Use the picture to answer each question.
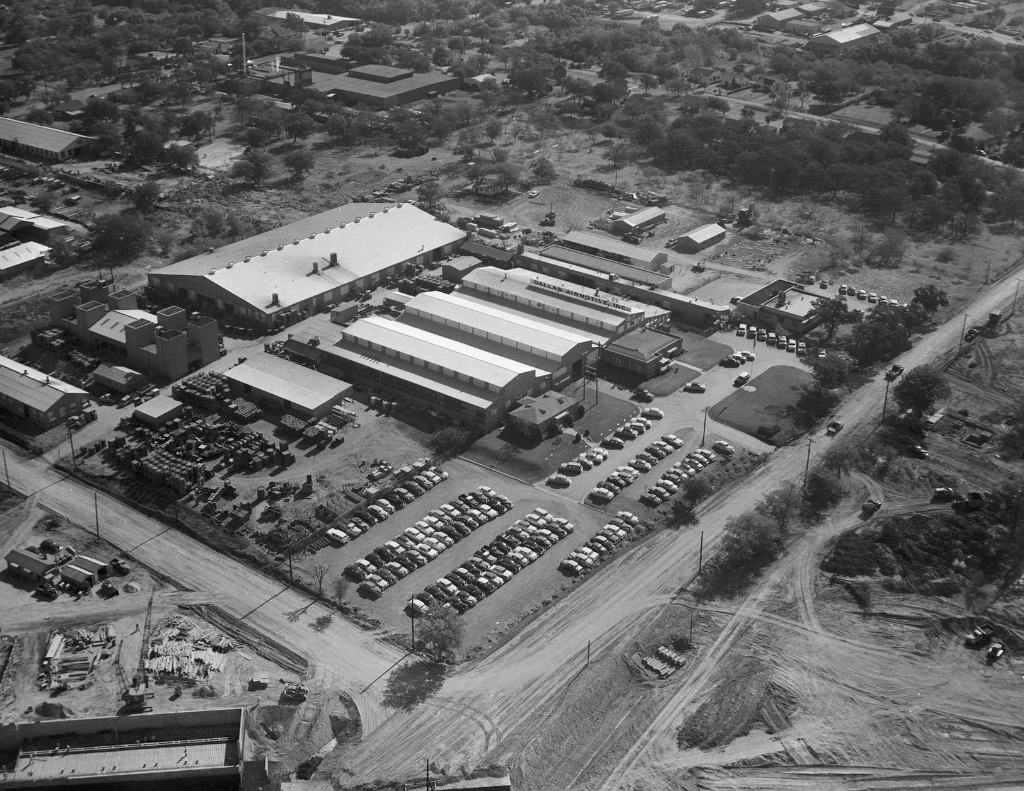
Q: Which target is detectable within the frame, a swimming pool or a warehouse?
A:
warehouse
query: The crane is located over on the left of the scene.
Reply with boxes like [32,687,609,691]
[120,581,164,711]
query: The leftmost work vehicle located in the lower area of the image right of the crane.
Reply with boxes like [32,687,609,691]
[278,681,306,705]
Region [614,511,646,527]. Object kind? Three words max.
car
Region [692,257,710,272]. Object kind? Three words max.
work vehicle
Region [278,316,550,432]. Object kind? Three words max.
shed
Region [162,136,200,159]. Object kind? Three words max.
house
